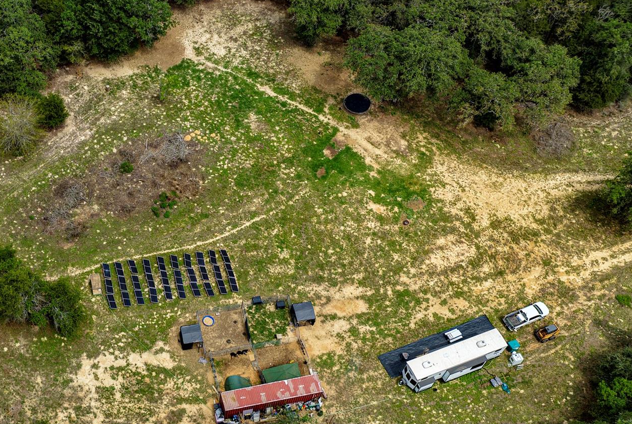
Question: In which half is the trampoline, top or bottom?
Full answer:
Seen from above, the trampoline lies in the top half of the view.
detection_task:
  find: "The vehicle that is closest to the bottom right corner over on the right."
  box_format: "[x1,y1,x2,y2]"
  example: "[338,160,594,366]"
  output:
[528,321,563,345]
